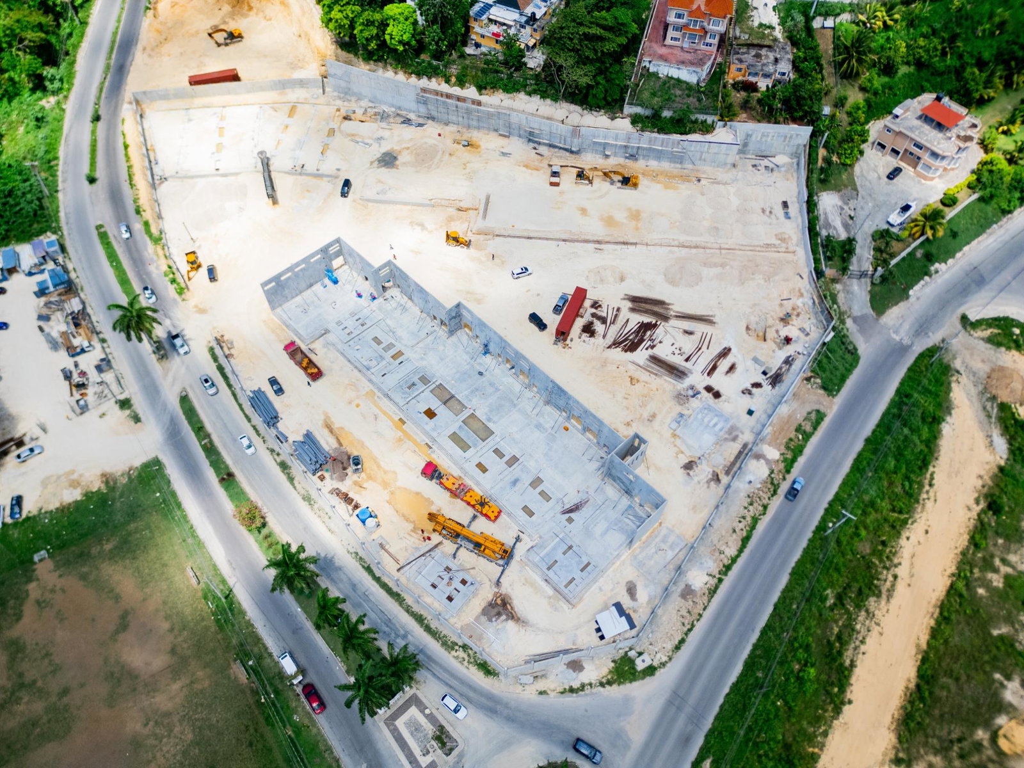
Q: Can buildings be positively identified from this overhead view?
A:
Yes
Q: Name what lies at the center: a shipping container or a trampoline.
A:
shipping container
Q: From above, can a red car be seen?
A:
Yes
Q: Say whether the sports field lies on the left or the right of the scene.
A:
left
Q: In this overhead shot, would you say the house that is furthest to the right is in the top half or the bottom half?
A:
top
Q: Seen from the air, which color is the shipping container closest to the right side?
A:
red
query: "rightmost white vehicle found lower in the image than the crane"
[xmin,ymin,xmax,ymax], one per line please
[440,691,468,720]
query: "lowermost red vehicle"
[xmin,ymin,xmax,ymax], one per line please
[299,680,326,716]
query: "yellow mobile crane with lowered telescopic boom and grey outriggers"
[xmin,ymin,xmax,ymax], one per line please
[422,518,523,588]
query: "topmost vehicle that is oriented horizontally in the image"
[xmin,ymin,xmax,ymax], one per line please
[211,25,245,43]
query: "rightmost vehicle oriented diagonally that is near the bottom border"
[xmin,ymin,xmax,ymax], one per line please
[572,734,604,765]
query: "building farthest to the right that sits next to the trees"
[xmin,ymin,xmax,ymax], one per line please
[874,92,984,178]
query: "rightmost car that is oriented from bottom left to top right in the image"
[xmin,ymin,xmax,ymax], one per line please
[887,164,904,178]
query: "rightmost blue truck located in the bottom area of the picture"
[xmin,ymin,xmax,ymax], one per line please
[786,474,807,501]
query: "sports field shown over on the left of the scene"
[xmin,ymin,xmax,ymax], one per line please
[0,459,327,768]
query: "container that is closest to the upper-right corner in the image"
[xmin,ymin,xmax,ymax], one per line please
[556,285,588,342]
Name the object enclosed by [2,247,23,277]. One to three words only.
shed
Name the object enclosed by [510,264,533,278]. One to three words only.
car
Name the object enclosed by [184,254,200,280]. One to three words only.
work vehicle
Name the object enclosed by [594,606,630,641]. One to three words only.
building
